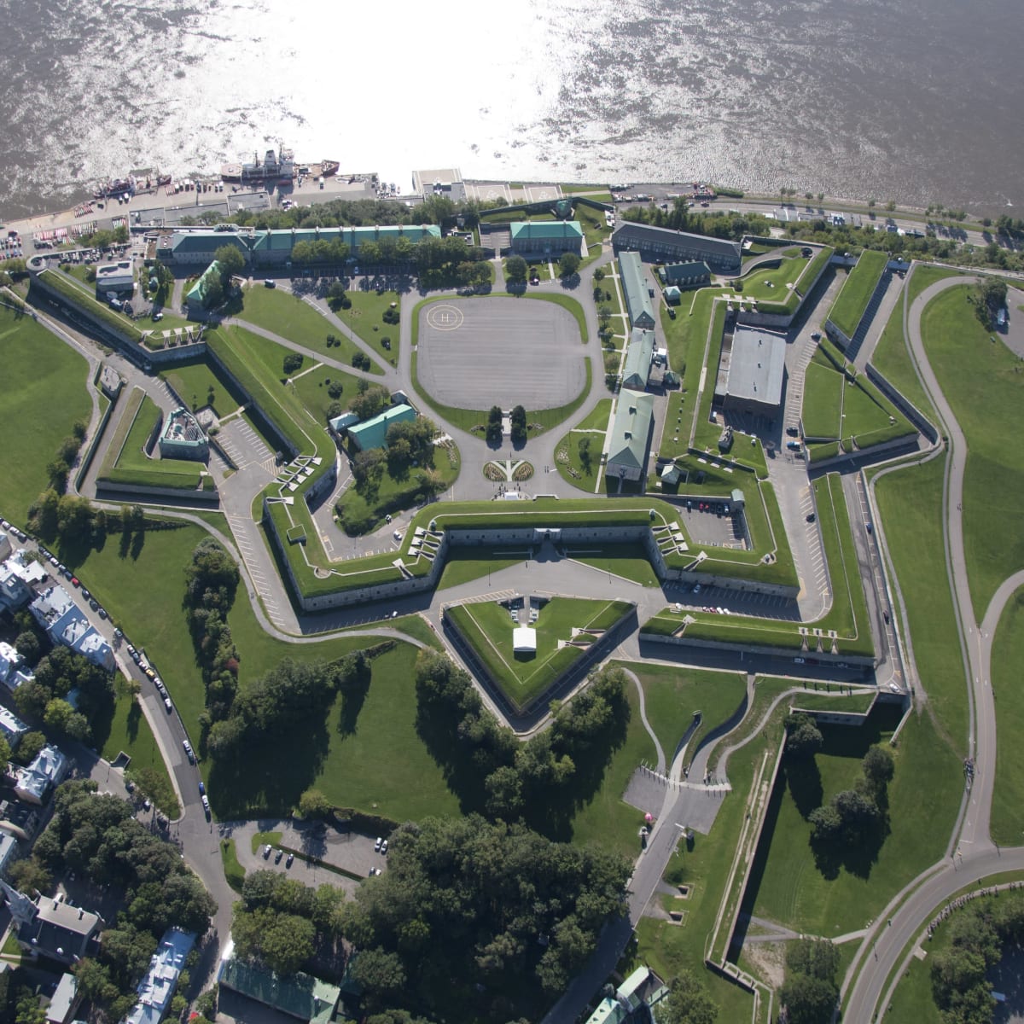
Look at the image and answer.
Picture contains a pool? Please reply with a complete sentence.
No, there is no pool in the image.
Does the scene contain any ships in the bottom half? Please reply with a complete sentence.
No, the scene shows no ship in the bottom half.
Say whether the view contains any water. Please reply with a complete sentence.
Yes, some water is visible.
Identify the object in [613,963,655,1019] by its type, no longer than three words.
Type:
building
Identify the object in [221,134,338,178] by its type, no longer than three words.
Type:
ship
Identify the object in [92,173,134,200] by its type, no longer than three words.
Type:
vessel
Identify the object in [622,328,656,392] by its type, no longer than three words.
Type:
house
